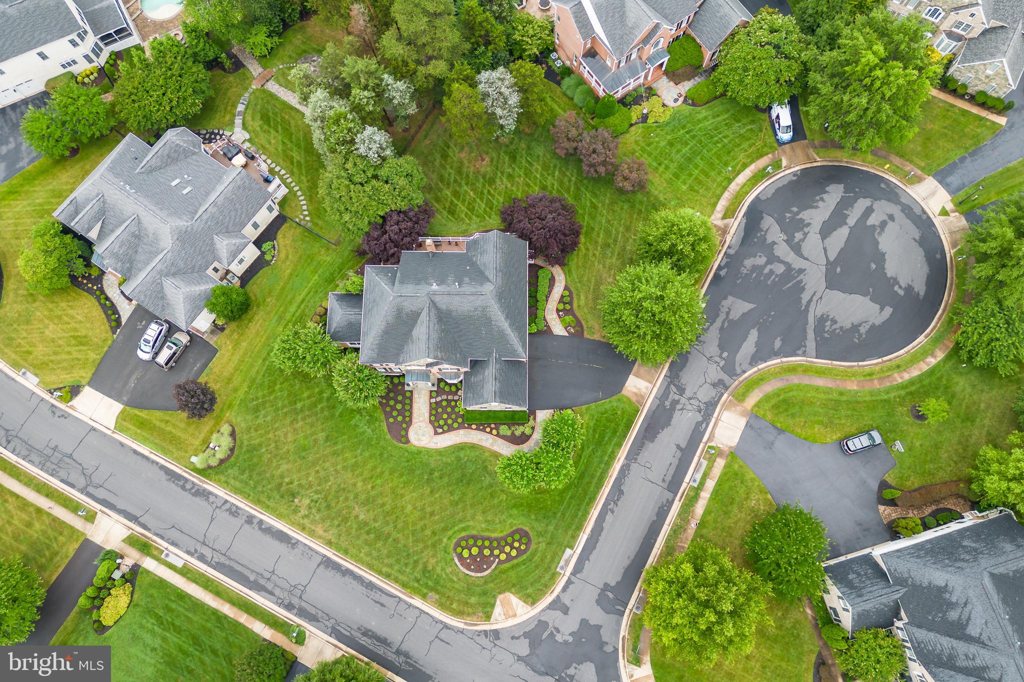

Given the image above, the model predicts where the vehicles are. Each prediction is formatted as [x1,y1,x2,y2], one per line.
[769,101,791,141]
[156,334,189,372]
[140,320,169,361]
[838,431,880,455]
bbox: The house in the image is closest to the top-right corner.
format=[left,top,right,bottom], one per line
[873,0,1024,103]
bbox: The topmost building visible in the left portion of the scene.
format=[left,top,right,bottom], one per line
[0,0,139,98]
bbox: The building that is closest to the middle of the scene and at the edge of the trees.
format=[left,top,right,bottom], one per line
[325,230,535,410]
